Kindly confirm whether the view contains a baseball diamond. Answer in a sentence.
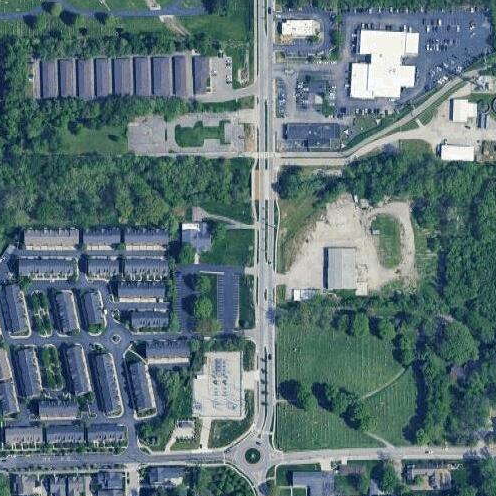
No, I can see no baseball diamond in this picture.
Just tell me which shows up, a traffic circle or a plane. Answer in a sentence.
It is a traffic circle that can be seen here.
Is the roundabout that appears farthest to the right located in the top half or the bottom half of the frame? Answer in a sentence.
The bottom half of the photo is where the roundabout that appears farthest to the right is.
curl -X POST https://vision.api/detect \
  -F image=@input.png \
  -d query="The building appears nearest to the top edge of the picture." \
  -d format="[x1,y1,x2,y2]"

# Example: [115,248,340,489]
[282,20,314,37]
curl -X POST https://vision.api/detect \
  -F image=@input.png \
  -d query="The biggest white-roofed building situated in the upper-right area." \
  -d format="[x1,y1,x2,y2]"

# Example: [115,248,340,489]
[351,29,419,98]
